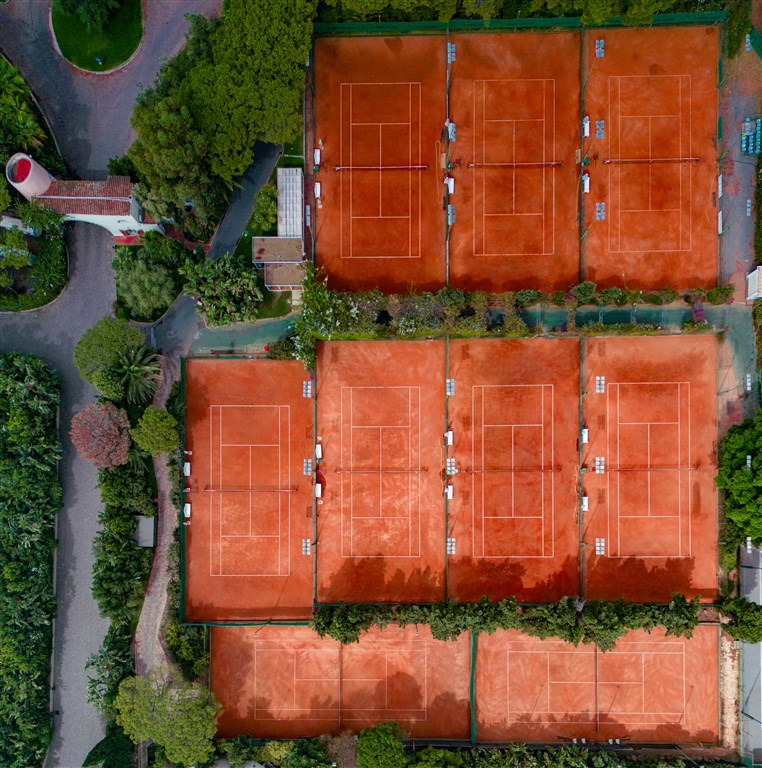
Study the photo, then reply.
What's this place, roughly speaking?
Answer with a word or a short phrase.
sports ground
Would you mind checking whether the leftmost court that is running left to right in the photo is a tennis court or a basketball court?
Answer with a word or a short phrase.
tennis court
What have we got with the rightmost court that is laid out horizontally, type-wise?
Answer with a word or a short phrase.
tennis court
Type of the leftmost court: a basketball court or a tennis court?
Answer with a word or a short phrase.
tennis court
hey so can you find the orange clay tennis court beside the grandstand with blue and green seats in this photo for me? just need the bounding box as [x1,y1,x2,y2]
[585,26,719,290]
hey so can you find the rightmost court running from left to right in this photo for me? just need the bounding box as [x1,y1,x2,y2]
[475,624,719,742]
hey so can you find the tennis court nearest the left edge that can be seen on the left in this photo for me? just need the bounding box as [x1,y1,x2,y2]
[186,360,314,620]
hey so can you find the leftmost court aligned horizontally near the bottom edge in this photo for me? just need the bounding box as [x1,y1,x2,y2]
[211,624,471,741]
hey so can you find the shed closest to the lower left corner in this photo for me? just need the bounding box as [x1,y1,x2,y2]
[134,516,159,547]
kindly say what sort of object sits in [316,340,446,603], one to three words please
tennis court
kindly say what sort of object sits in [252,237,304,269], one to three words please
building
